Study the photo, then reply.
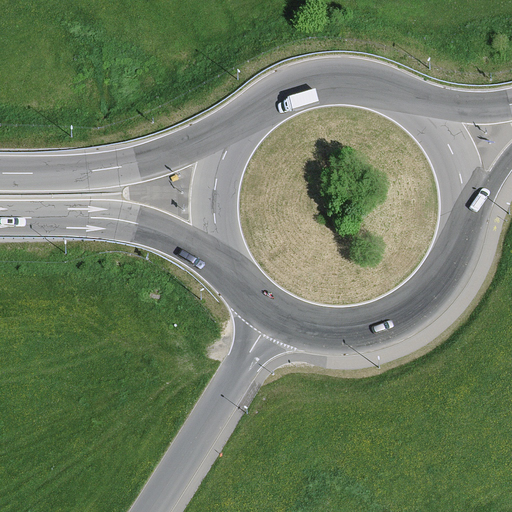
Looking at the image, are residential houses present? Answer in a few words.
No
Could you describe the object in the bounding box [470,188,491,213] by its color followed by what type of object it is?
white vehicle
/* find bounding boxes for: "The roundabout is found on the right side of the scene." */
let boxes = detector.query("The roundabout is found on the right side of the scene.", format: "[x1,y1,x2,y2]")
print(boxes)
[134,104,512,353]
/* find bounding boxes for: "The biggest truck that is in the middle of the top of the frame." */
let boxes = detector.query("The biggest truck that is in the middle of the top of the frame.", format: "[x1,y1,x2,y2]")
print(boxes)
[278,88,318,112]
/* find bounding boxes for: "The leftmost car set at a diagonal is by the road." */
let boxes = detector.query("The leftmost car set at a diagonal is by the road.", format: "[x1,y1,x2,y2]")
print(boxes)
[178,250,205,270]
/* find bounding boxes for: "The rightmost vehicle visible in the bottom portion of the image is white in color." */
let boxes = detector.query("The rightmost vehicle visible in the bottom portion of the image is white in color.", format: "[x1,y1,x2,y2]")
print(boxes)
[372,320,394,334]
